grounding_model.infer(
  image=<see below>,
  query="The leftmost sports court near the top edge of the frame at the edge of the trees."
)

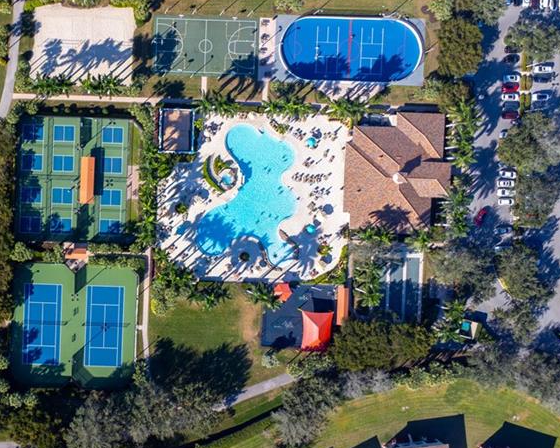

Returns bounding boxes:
[27,4,136,81]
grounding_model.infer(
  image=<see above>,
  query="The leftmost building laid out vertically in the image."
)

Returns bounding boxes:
[80,157,95,204]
